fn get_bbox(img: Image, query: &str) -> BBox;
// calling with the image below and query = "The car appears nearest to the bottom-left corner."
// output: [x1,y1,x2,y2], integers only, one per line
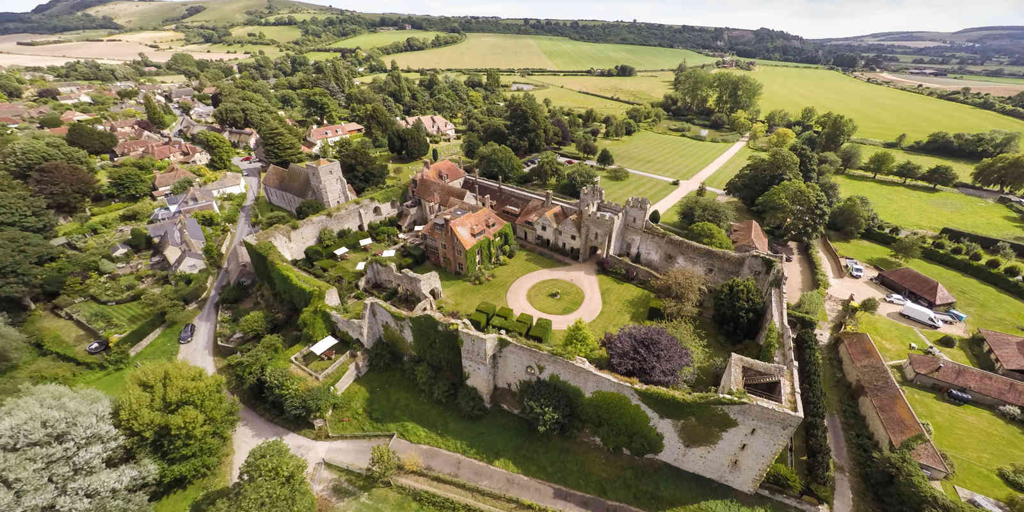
[175,320,196,341]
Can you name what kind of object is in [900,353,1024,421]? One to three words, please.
barn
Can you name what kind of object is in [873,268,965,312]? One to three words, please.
shed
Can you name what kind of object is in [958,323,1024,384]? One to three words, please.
barn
